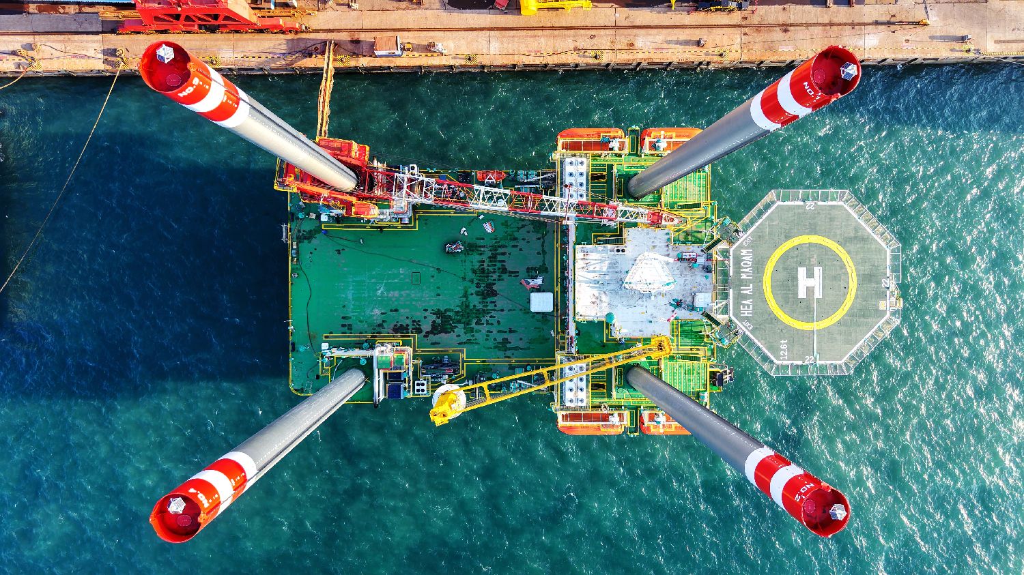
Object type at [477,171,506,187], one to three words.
boat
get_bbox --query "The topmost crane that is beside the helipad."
[274,138,685,224]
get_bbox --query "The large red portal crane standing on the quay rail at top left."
[121,0,309,36]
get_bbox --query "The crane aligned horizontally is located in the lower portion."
[430,337,672,426]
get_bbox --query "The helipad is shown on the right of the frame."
[702,189,902,376]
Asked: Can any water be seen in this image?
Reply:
Yes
